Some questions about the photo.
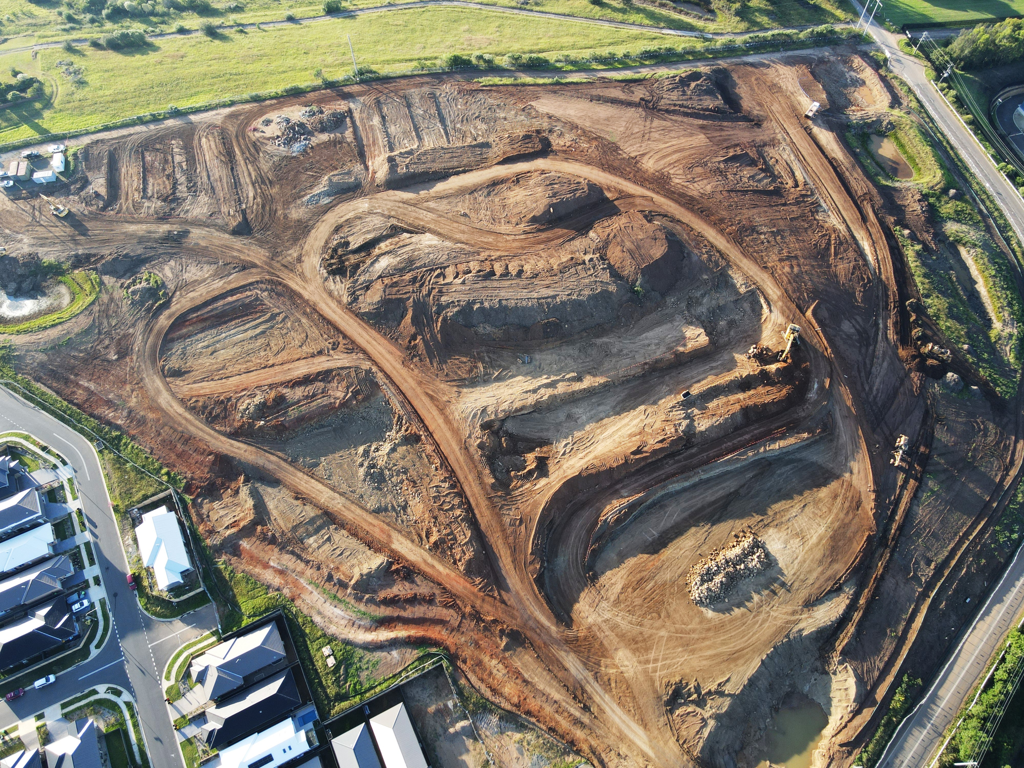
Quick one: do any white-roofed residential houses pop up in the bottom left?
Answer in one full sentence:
Yes, I can see a white-roofed residential house in the bottom left.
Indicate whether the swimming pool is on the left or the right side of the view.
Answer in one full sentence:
The swimming pool appears in the left half of the scene.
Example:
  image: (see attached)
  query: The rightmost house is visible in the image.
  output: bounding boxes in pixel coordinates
[369,703,428,768]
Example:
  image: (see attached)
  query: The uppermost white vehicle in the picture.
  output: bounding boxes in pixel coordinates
[806,96,821,117]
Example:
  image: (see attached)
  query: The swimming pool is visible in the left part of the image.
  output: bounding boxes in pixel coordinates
[293,706,318,735]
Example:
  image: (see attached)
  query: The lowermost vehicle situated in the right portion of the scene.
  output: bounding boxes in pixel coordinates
[892,435,910,468]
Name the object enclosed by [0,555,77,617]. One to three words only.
house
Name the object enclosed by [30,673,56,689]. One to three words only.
car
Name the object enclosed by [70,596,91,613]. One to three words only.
car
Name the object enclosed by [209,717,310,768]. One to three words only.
house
